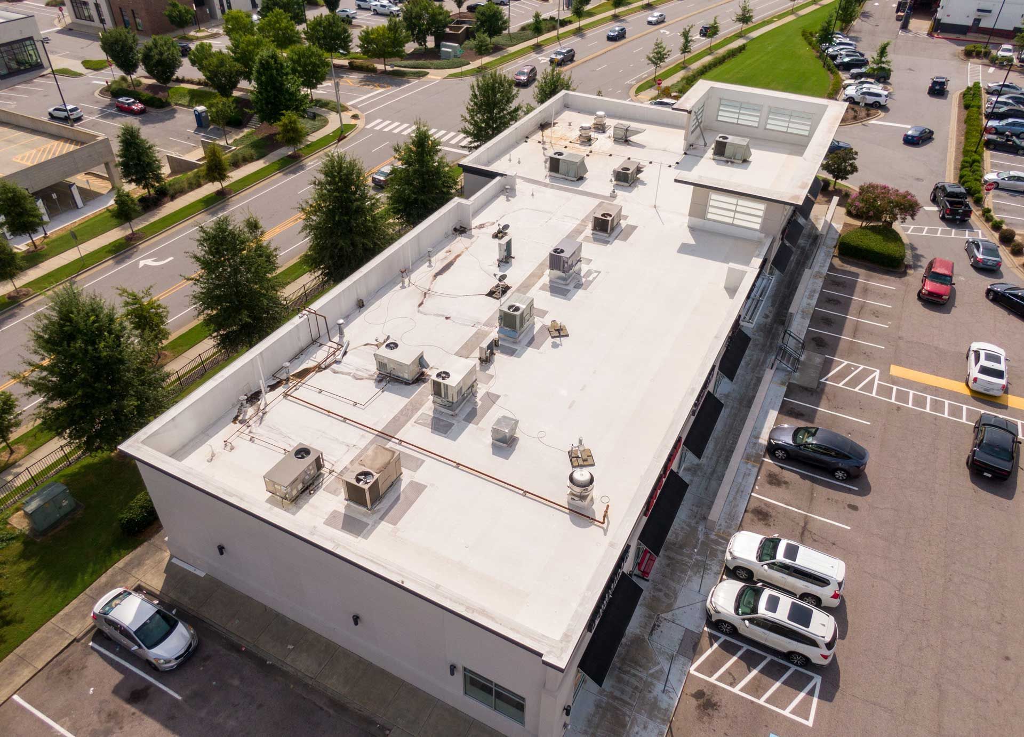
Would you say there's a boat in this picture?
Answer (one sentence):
No, I can see no boat in this picture.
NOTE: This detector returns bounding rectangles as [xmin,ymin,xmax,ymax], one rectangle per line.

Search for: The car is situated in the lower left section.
[83,582,200,673]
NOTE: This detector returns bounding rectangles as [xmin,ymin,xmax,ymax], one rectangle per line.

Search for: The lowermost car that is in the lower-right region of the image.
[705,586,840,673]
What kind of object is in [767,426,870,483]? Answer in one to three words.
car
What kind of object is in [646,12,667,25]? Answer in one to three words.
vehicle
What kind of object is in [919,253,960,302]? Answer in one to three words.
car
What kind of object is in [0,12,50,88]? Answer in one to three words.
building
